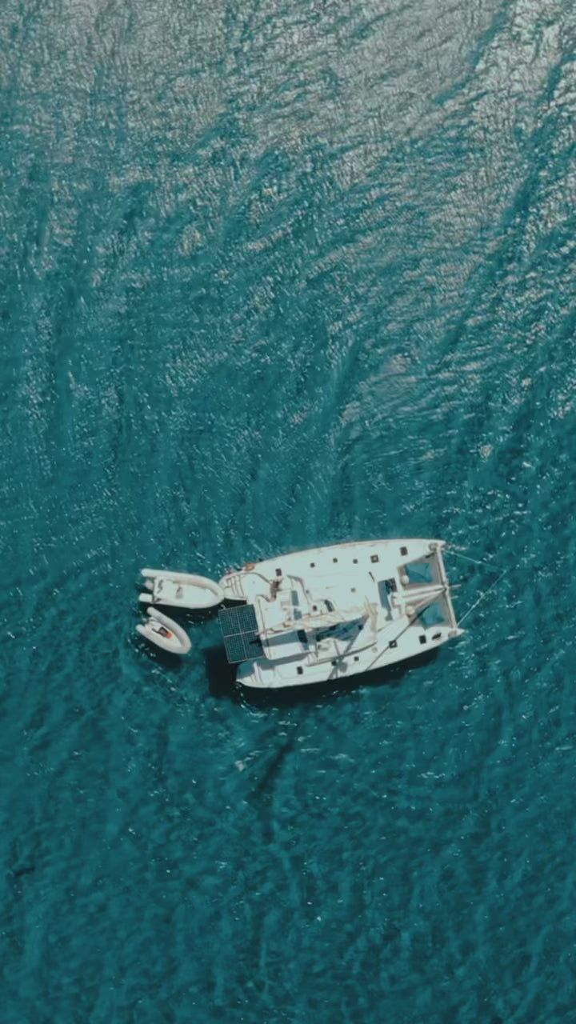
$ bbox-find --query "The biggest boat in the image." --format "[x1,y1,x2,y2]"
[218,539,466,689]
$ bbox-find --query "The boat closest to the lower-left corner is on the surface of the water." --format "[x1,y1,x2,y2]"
[137,607,187,653]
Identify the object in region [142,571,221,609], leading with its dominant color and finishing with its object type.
white boat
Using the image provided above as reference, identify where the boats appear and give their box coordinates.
[142,571,221,609]
[218,539,466,689]
[137,607,187,653]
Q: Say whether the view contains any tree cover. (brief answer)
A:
No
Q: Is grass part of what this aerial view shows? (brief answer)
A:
No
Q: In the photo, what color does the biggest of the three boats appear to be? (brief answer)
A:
white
